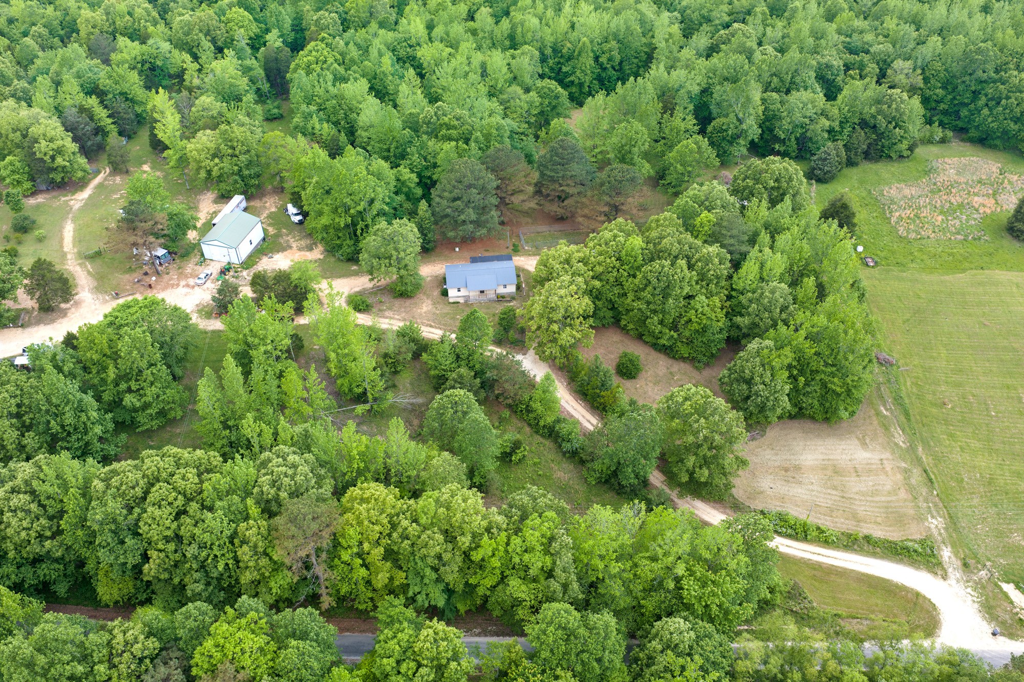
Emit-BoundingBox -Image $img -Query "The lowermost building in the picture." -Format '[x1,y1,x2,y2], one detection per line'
[446,254,517,303]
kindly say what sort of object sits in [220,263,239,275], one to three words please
vehicle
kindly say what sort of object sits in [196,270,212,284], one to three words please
car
